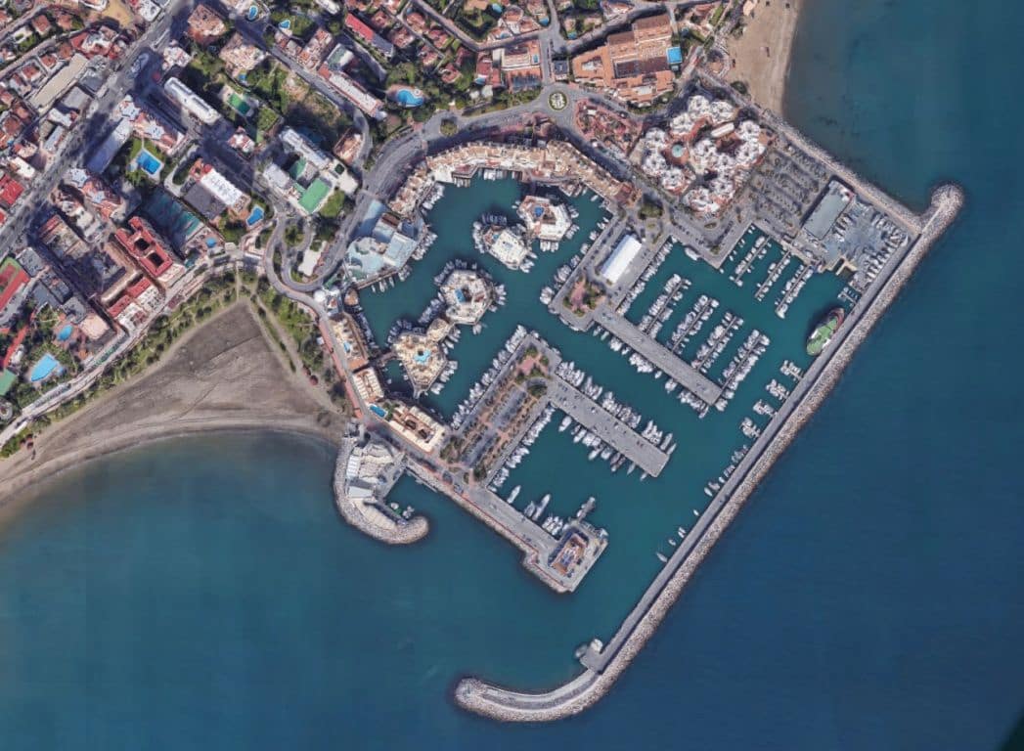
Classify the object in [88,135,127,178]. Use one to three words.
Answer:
building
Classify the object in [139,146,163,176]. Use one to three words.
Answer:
swimming pool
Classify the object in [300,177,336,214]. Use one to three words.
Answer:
sports court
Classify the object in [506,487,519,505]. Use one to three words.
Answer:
boat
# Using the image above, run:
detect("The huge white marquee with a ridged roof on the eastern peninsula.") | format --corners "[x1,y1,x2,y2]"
[600,235,644,284]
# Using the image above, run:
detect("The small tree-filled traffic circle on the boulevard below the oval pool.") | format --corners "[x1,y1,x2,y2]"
[434,112,464,142]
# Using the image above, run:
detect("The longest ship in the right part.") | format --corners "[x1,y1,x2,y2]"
[810,310,844,354]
